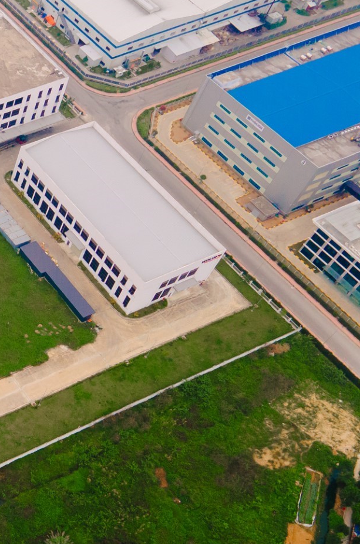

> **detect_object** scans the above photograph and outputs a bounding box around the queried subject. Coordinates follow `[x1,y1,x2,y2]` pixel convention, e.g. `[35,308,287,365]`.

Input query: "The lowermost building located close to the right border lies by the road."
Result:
[296,201,360,309]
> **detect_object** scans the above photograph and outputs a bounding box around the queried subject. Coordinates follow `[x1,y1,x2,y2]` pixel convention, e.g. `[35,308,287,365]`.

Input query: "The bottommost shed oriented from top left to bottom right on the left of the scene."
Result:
[19,242,96,322]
